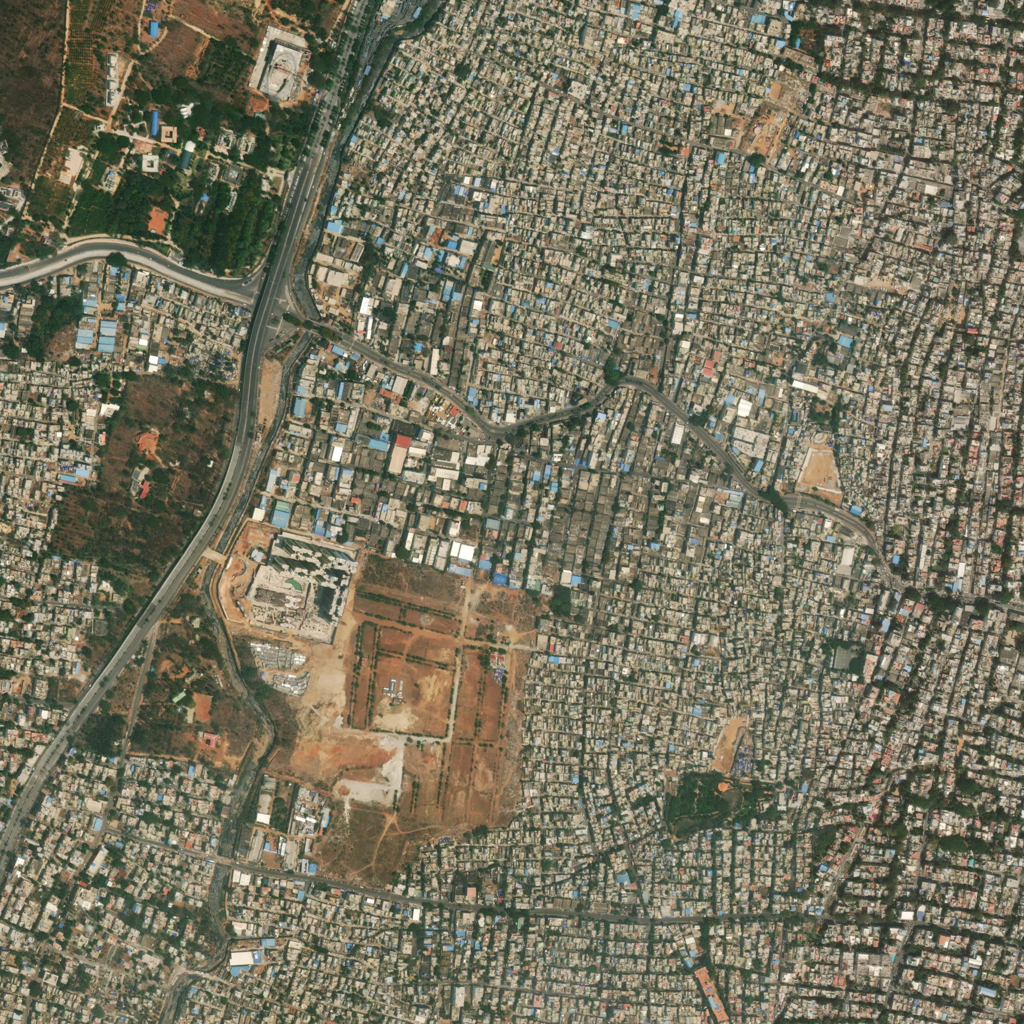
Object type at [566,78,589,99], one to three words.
building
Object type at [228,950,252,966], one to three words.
shed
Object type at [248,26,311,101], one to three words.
building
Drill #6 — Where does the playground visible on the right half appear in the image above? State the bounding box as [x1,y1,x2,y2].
[795,433,844,508]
